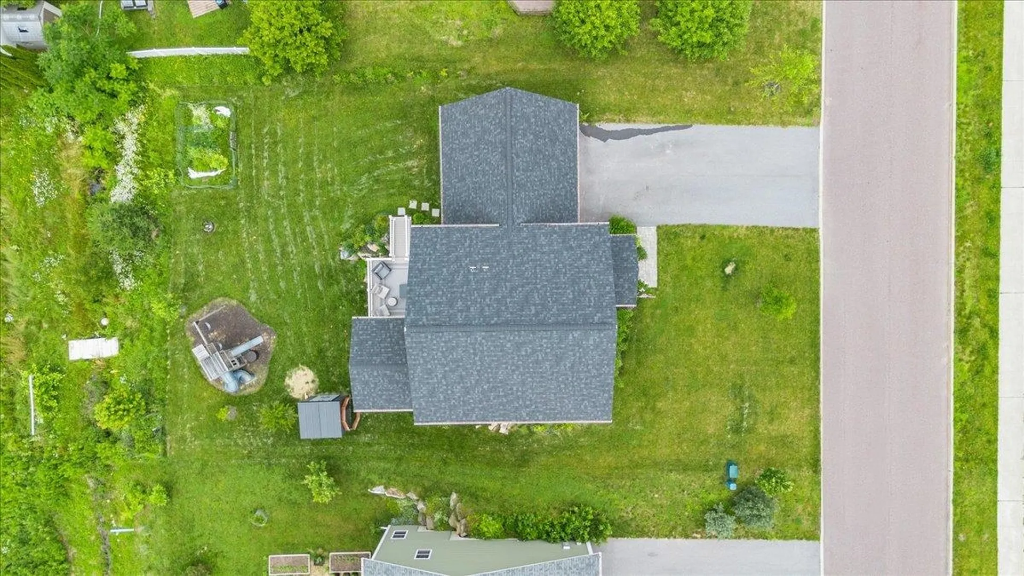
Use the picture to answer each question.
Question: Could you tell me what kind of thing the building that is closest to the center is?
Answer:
home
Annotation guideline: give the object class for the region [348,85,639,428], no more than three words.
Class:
house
